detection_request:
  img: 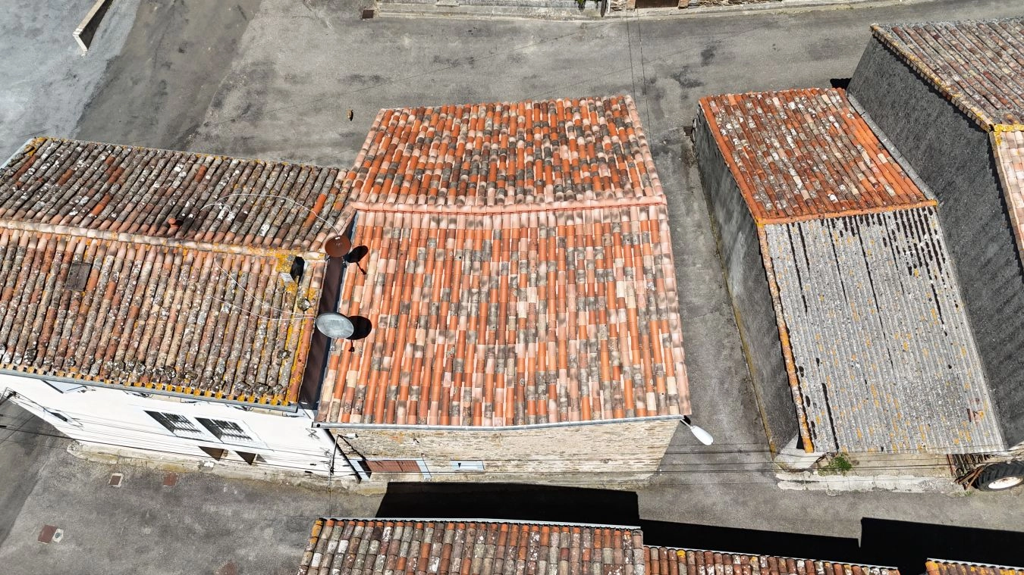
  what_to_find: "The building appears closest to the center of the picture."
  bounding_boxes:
[305,92,696,479]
